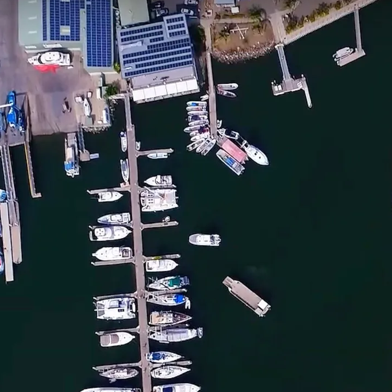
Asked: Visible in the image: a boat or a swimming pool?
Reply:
boat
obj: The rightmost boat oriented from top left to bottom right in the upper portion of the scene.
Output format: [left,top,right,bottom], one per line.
[238,138,270,165]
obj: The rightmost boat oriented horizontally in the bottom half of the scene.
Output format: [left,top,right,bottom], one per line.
[189,234,221,246]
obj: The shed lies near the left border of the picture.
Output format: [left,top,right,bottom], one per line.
[18,0,120,78]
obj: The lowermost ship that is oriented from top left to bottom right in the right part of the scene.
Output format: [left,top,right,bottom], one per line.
[223,277,270,316]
